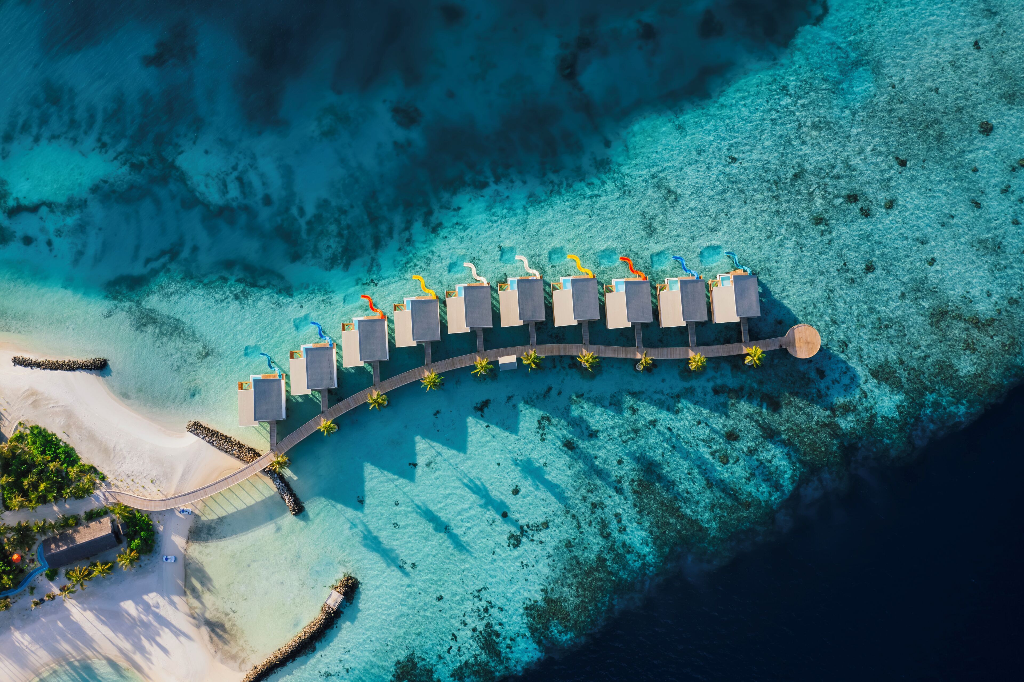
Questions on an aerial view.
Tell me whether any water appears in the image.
Yes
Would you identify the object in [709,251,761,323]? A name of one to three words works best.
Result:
house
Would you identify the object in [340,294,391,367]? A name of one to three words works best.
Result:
house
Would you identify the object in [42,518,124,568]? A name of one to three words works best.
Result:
building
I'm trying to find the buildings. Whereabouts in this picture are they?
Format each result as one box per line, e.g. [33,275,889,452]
[392,275,441,347]
[288,321,340,395]
[340,294,391,367]
[237,352,289,427]
[551,255,600,327]
[603,257,653,329]
[709,251,761,323]
[657,256,708,328]
[444,262,493,334]
[497,255,546,327]
[42,518,124,568]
